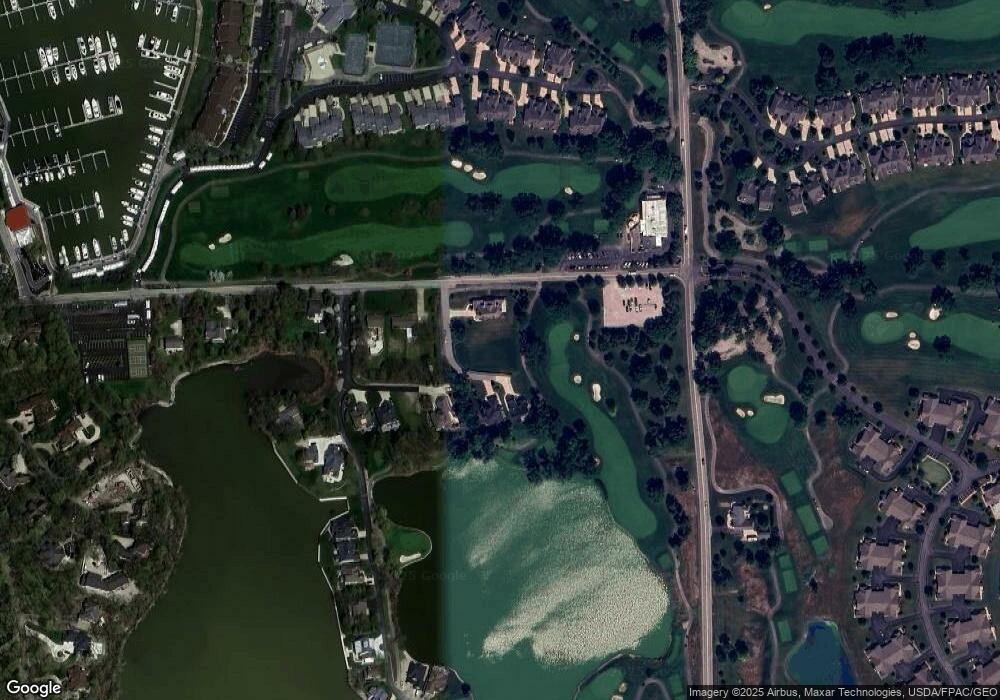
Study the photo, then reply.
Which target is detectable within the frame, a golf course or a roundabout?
golf course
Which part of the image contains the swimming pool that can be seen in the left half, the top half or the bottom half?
top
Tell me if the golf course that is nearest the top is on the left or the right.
right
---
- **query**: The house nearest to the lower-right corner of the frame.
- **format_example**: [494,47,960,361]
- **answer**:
[972,662,1000,698]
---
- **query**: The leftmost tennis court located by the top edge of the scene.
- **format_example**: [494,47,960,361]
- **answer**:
[343,33,367,75]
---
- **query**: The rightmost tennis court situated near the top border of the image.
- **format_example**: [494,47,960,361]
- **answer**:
[374,24,418,67]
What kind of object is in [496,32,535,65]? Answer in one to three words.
house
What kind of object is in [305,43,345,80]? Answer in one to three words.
swimming pool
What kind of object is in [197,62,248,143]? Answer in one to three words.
building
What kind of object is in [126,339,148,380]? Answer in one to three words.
sports court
